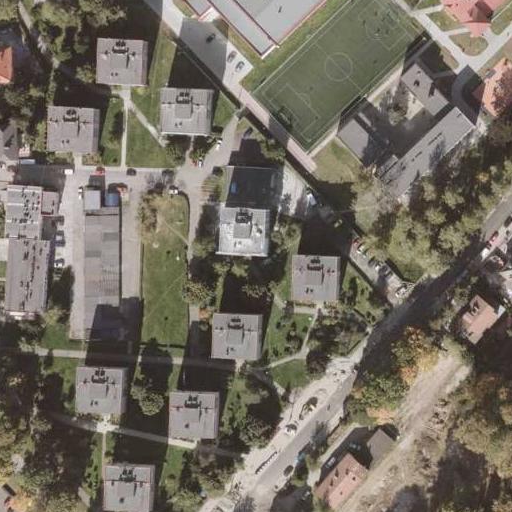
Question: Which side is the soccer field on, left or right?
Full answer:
You can find the soccer field on the right side of the picture.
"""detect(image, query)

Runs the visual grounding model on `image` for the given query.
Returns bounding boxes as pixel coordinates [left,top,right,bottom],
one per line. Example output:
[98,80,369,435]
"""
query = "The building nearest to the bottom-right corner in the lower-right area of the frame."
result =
[358,427,397,466]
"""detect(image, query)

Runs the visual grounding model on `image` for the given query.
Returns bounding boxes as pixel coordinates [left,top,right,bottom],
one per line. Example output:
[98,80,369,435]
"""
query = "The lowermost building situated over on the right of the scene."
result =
[313,451,370,509]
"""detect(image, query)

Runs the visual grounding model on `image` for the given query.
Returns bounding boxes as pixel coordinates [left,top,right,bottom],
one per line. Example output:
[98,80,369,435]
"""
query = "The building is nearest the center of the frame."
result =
[217,208,269,259]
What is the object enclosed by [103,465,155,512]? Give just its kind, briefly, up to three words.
building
